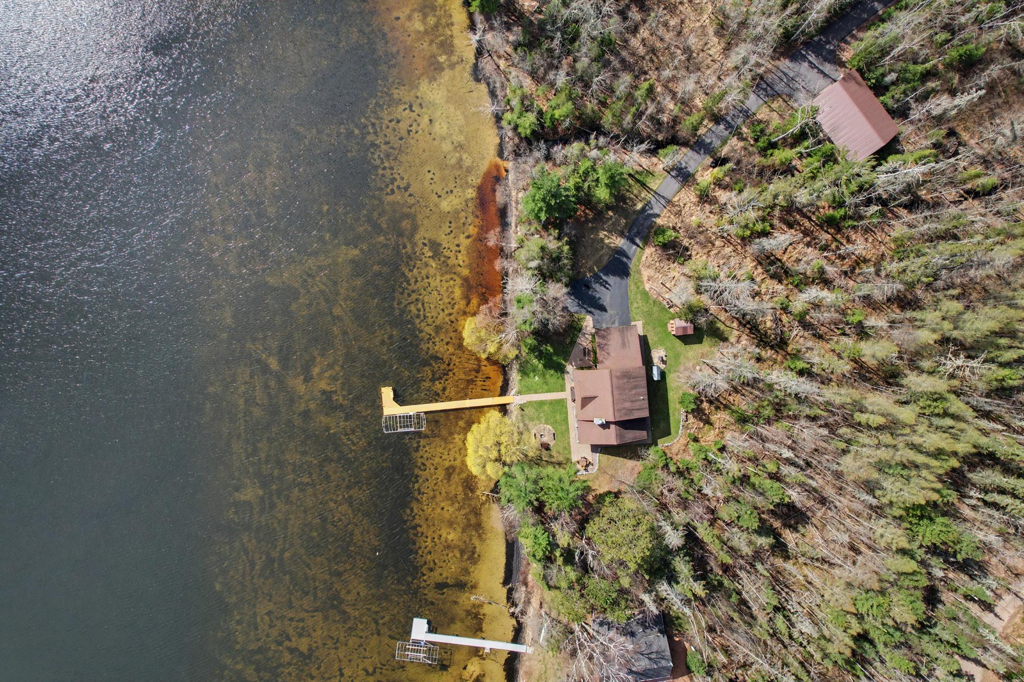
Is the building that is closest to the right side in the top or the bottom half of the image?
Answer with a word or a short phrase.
top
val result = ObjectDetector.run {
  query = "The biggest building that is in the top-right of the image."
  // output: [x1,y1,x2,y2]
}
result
[809,71,899,163]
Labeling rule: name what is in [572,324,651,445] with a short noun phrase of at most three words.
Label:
house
